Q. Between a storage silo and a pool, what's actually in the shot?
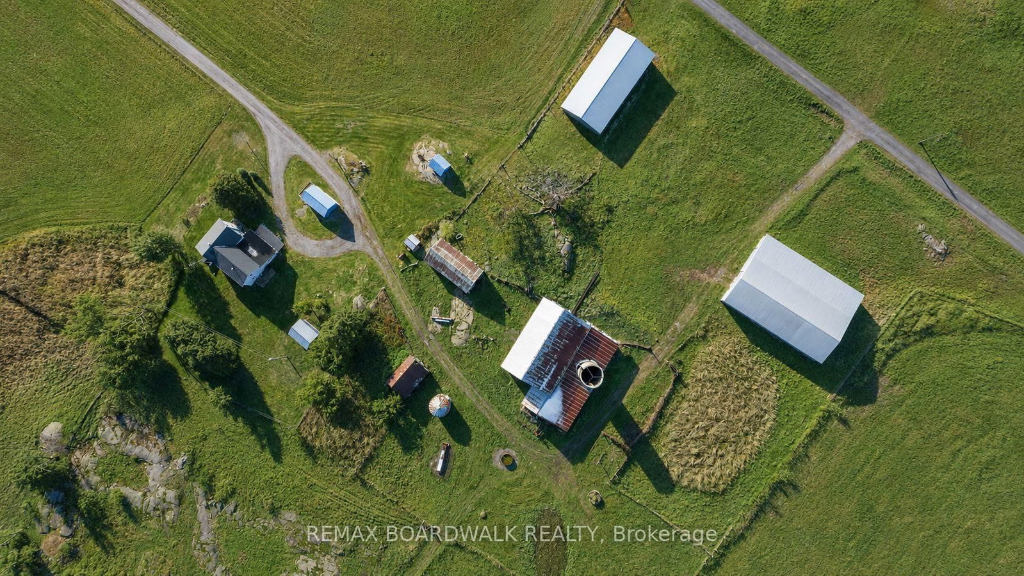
storage silo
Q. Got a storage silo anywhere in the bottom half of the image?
Yes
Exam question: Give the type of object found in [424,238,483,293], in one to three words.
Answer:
shed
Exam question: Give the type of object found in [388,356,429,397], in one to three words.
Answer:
shed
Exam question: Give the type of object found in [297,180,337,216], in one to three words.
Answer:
building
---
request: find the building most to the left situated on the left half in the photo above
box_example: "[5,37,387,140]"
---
[196,218,288,287]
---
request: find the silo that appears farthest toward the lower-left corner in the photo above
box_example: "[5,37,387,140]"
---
[428,392,452,417]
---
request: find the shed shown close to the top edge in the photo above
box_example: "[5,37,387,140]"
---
[562,27,655,136]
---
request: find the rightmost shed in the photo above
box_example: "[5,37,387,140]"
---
[718,234,863,362]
